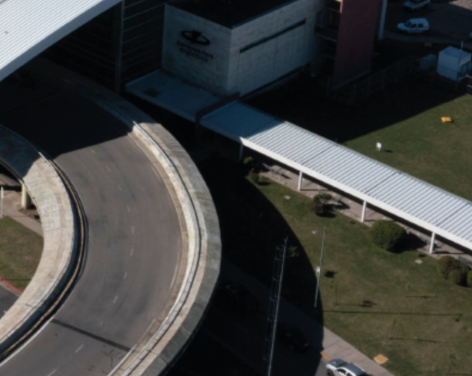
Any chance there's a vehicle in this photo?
Yes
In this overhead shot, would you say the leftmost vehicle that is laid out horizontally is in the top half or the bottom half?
bottom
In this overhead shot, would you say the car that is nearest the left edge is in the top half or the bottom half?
bottom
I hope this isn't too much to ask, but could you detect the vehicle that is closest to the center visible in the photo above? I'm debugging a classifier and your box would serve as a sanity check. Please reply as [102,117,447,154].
[218,261,261,303]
